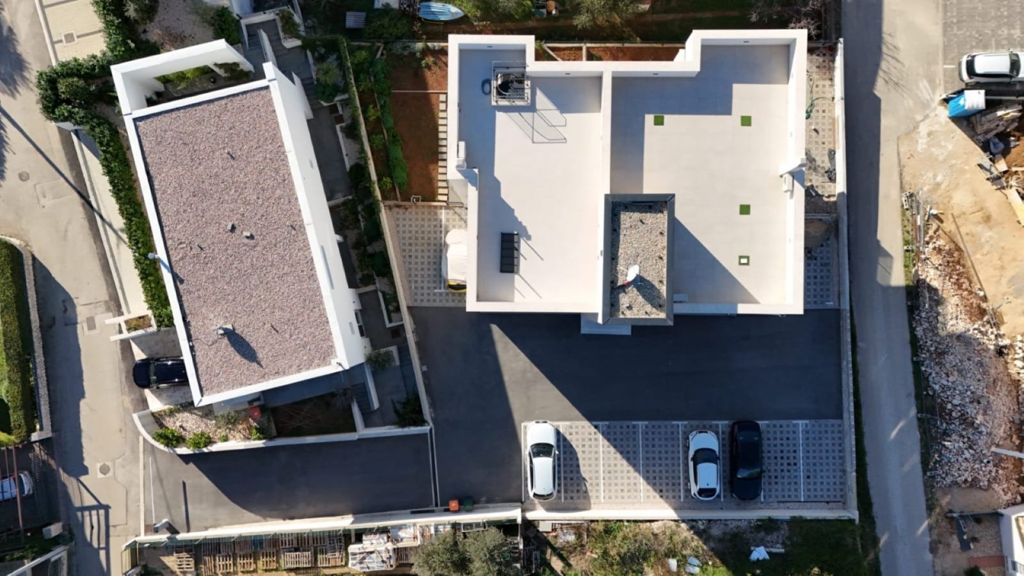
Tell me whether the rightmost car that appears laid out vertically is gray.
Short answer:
No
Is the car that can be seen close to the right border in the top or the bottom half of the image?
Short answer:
top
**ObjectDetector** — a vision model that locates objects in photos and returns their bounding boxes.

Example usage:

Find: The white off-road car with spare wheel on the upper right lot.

[955,47,1024,86]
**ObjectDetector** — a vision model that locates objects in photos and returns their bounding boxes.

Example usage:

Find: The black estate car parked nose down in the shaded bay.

[728,421,767,501]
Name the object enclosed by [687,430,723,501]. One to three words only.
car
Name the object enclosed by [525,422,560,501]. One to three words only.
car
